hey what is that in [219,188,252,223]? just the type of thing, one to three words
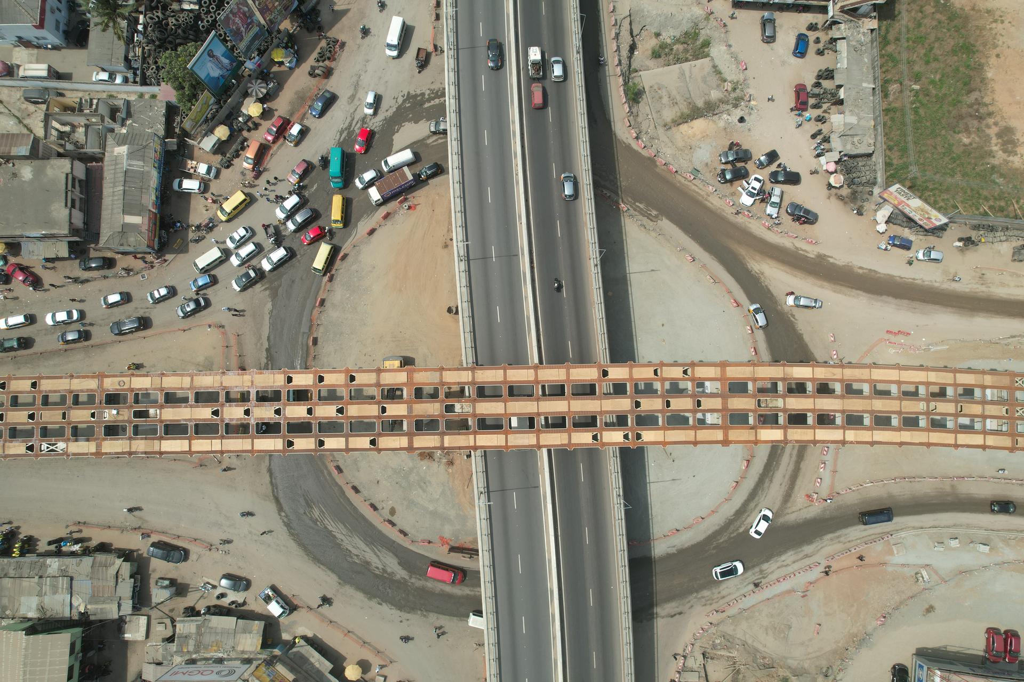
vehicle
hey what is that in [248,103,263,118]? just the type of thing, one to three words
umbrella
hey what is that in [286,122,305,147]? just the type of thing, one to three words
car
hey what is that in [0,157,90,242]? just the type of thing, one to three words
house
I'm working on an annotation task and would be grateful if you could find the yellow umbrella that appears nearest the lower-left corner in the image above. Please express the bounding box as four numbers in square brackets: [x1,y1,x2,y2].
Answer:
[344,663,361,681]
